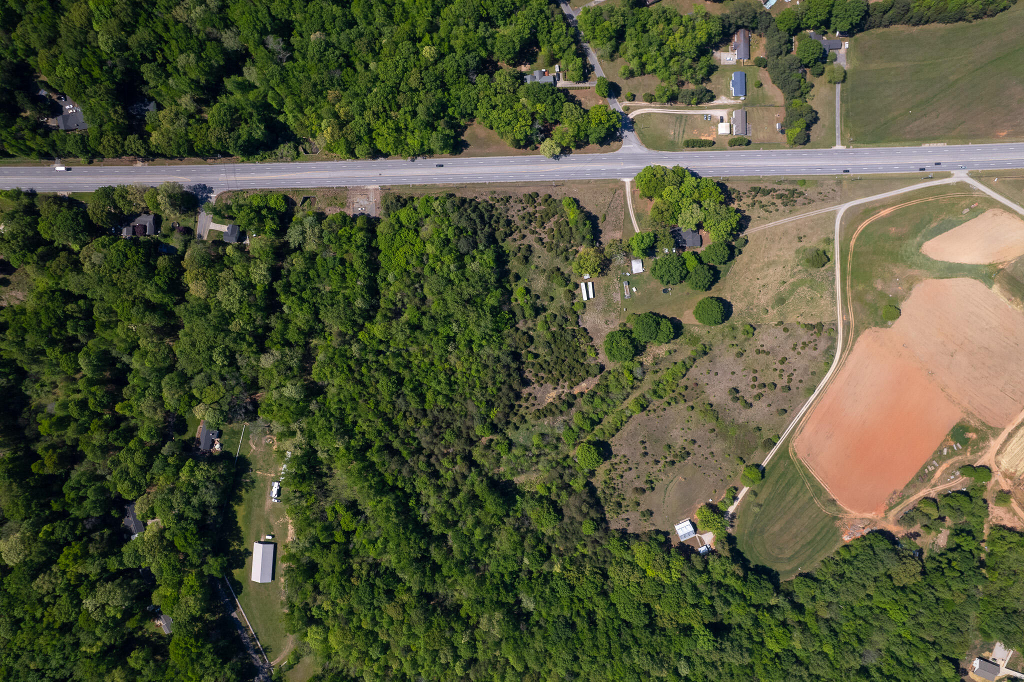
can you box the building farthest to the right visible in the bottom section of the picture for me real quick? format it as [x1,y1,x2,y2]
[970,658,997,681]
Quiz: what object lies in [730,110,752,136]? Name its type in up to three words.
house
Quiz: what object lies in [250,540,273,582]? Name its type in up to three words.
barn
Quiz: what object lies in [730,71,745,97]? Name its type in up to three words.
house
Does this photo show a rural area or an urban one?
rural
